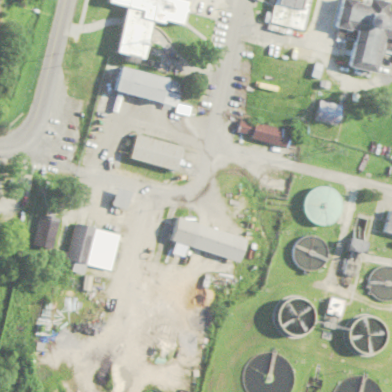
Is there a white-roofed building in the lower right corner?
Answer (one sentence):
Yes, a white-roofed building is visible in the lower right corner.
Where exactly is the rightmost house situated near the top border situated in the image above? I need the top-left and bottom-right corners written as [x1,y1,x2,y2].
[337,0,392,72]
